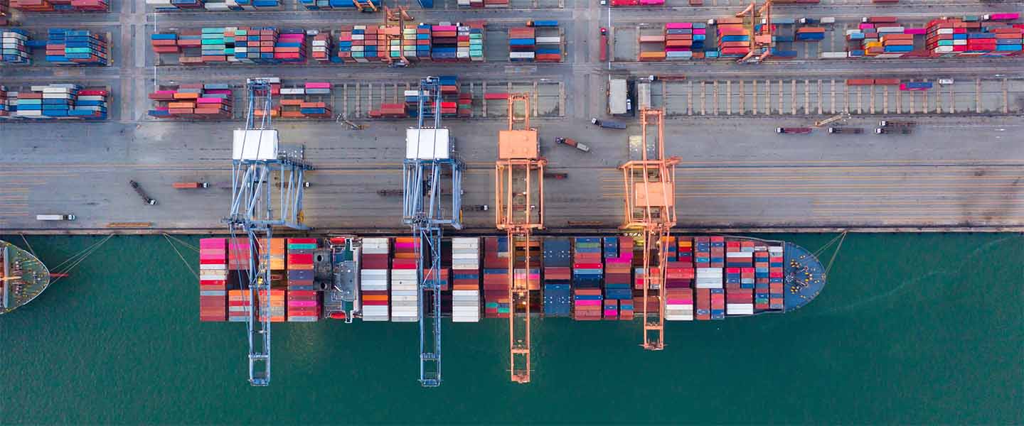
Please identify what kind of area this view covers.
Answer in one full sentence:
The area seen from above is a port.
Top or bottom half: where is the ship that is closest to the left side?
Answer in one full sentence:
You can find the ship that is closest to the left side in the bottom half.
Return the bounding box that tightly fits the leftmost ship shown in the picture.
[0,240,71,314]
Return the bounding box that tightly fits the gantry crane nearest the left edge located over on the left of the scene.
[224,78,321,387]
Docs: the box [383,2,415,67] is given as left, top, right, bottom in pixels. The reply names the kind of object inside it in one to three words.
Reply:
crane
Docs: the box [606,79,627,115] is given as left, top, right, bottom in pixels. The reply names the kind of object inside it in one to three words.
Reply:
shed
